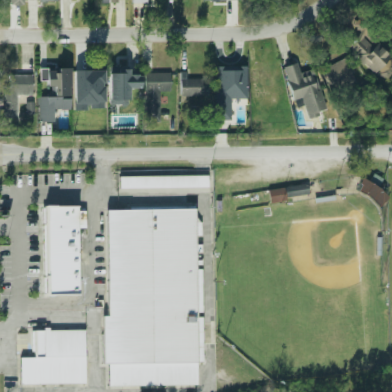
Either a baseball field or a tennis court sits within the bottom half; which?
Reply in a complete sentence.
Visible within the bottom half is a baseball field.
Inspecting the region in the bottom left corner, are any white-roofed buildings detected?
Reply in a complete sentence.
Yes, a white-roofed building appears in the bottom left corner.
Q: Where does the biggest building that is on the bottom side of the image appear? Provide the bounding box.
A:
[102,210,203,386]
